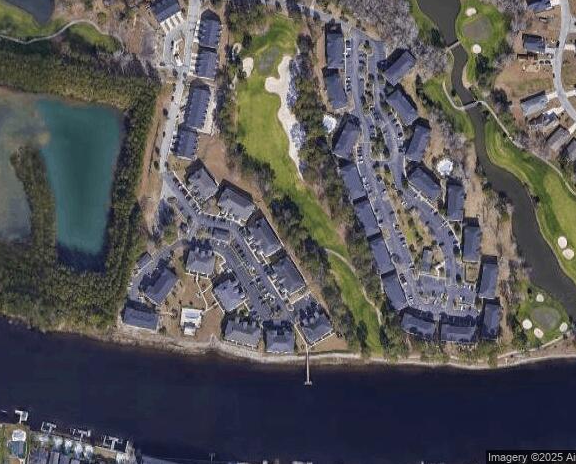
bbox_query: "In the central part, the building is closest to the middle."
[247,216,283,255]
